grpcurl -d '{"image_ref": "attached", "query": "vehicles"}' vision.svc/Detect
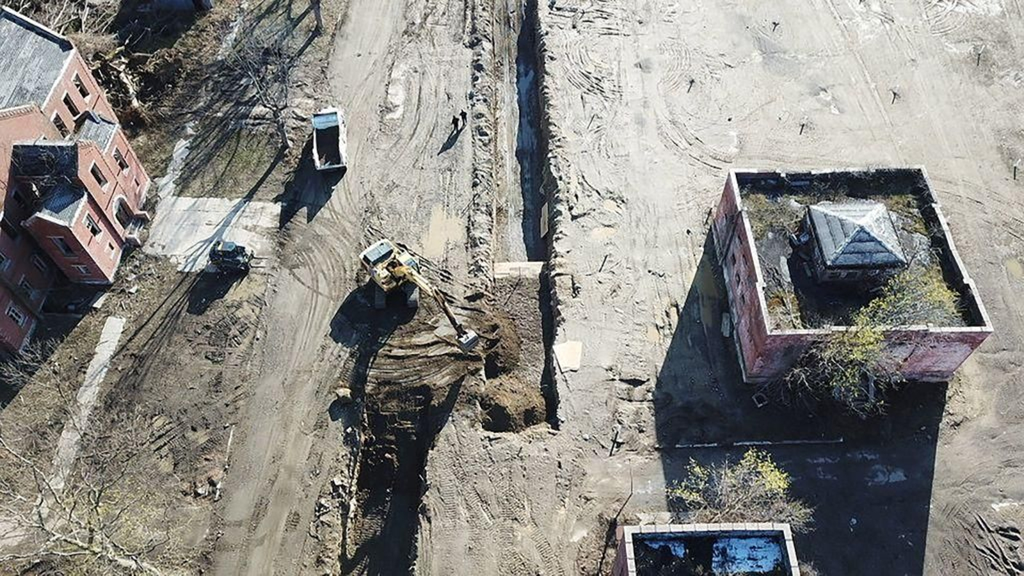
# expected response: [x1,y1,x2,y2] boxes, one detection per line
[357,237,481,353]
[204,239,271,276]
[308,105,347,179]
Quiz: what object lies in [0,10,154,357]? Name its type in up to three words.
building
